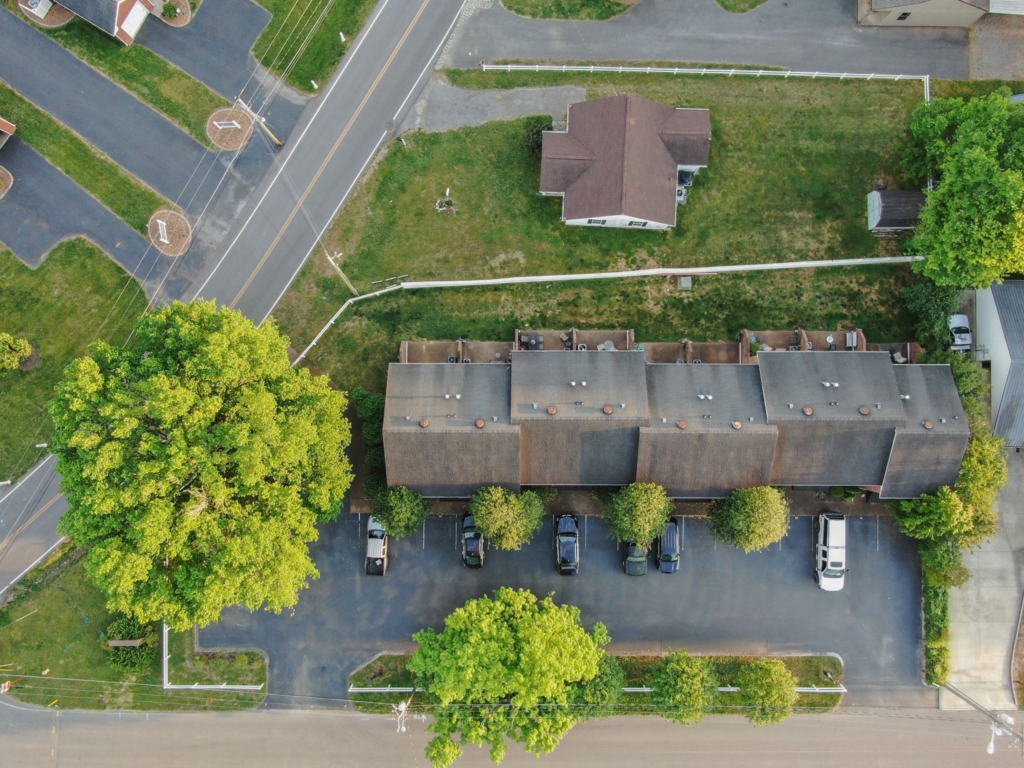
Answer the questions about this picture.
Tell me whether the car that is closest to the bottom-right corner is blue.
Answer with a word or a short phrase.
No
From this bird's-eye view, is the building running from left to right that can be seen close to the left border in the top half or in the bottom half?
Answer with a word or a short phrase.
top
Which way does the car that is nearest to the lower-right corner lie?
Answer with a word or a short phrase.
up and down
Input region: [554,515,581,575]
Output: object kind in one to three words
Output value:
car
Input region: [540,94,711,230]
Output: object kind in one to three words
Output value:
house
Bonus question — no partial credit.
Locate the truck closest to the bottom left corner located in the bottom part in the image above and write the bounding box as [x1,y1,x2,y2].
[365,514,393,576]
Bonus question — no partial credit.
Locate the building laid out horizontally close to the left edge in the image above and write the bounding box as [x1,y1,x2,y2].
[51,0,155,45]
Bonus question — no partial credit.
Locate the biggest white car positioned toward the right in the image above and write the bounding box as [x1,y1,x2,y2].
[813,513,847,588]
